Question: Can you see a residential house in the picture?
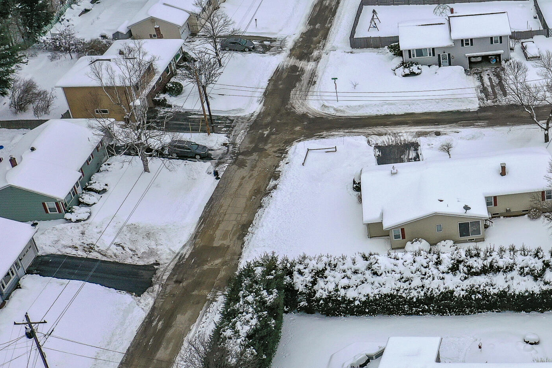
Yes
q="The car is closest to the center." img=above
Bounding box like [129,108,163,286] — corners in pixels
[165,142,208,161]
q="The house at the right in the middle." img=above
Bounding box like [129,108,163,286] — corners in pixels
[359,154,552,248]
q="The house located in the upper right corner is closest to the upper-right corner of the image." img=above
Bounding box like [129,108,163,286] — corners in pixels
[399,10,513,69]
